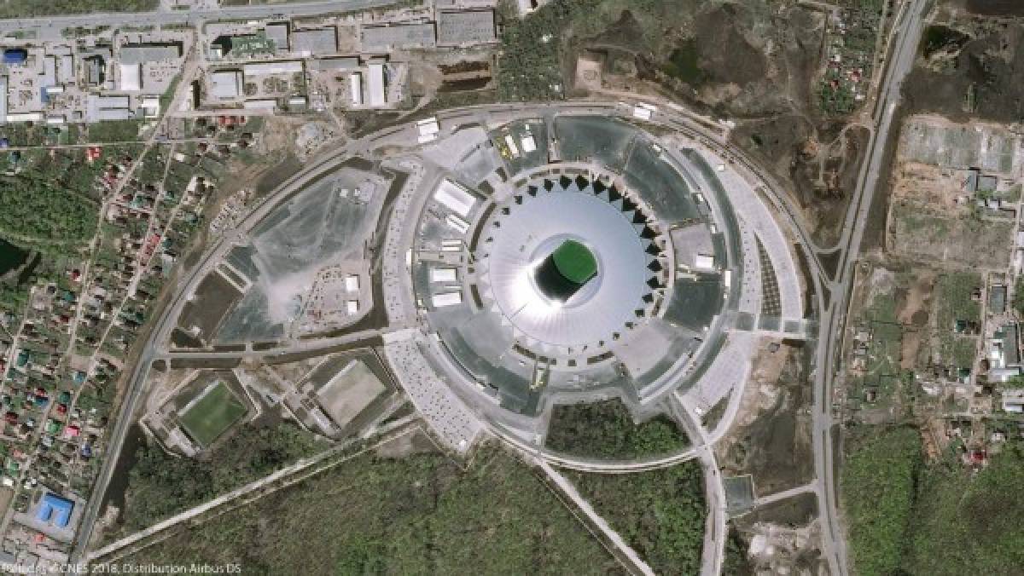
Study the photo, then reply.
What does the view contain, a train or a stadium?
stadium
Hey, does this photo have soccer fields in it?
Yes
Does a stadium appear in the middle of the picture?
Yes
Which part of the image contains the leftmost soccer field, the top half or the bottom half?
bottom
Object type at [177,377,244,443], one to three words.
soccer field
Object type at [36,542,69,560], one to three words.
shed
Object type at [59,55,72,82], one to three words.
building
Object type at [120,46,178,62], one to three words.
building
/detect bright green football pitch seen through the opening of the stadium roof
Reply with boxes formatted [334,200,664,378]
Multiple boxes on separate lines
[537,238,598,299]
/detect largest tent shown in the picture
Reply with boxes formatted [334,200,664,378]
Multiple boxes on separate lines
[435,178,475,214]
